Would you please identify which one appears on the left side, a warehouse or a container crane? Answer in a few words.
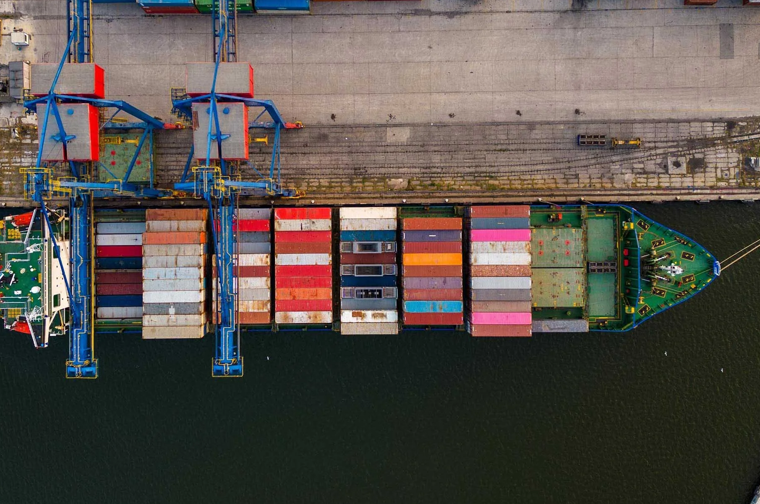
container crane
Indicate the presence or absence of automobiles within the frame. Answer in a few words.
No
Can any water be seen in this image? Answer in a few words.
Yes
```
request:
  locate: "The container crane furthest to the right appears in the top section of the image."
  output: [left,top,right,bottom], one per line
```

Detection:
[170,0,316,379]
